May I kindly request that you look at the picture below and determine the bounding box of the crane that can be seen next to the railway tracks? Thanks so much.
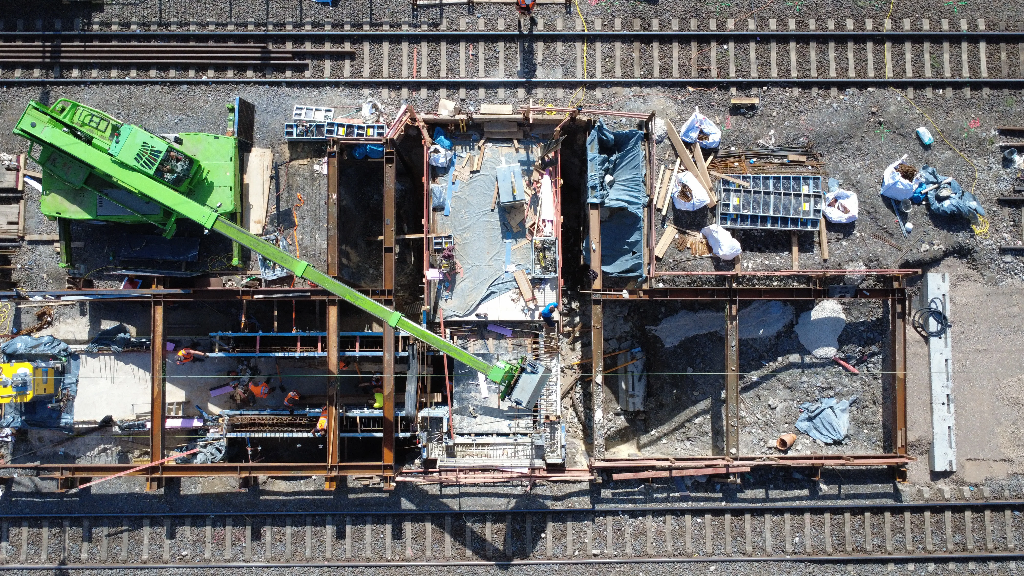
[11,97,552,410]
